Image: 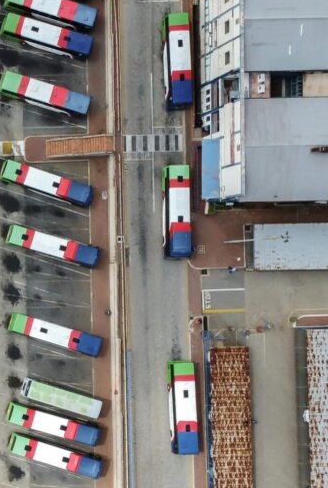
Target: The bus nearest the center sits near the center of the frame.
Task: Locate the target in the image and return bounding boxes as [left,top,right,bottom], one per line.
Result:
[158,165,191,261]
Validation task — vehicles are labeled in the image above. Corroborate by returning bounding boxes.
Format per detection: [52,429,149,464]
[0,73,93,119]
[2,401,102,448]
[158,13,191,112]
[158,165,191,261]
[0,160,96,209]
[4,312,103,359]
[0,0,97,35]
[1,225,102,272]
[4,431,104,481]
[0,13,95,62]
[15,373,101,419]
[163,360,197,458]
